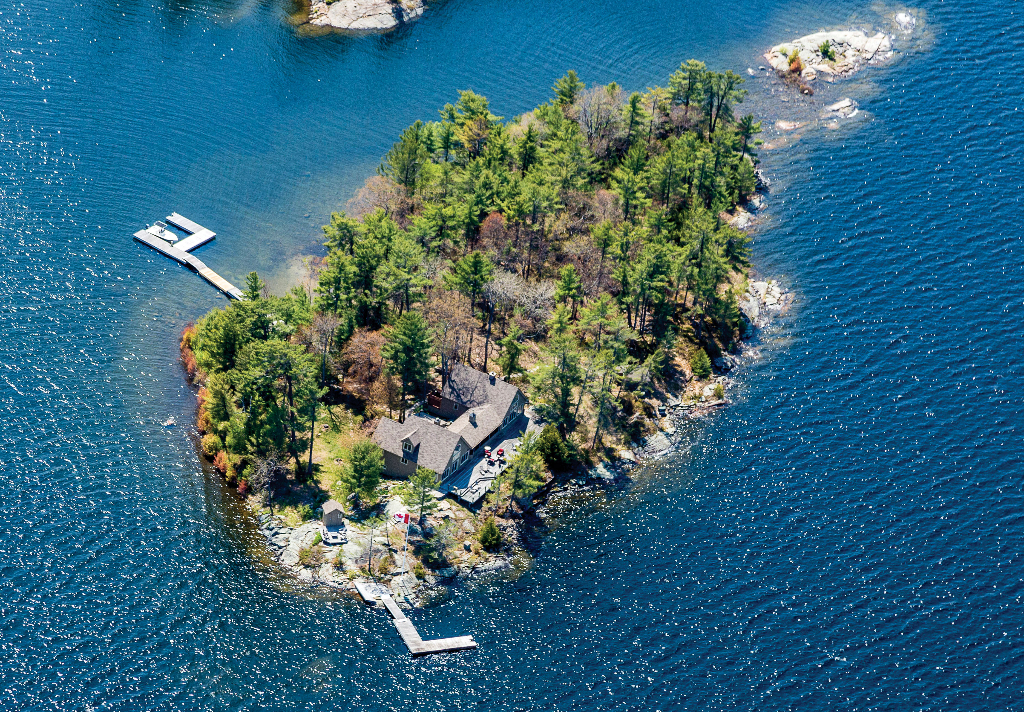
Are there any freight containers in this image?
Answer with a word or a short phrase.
No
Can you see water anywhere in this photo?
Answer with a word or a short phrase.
Yes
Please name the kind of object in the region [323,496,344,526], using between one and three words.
shed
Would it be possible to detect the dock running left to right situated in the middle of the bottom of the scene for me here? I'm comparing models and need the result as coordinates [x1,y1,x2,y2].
[393,618,477,656]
